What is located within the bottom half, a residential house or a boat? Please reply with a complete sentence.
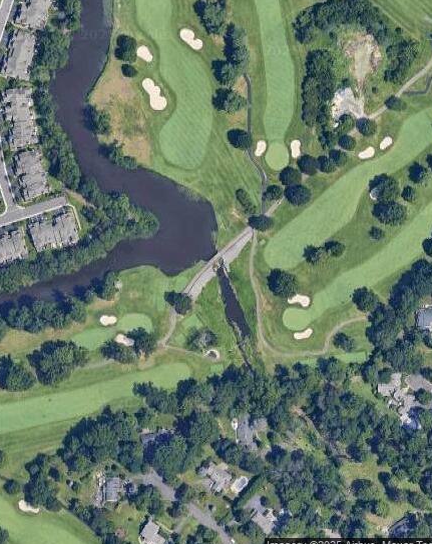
There is a residential house within the bottom half.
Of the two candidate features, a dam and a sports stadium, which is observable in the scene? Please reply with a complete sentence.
This aerial view contains a dam.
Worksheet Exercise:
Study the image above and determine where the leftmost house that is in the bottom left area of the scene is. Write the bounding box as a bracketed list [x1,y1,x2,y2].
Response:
[102,477,125,502]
